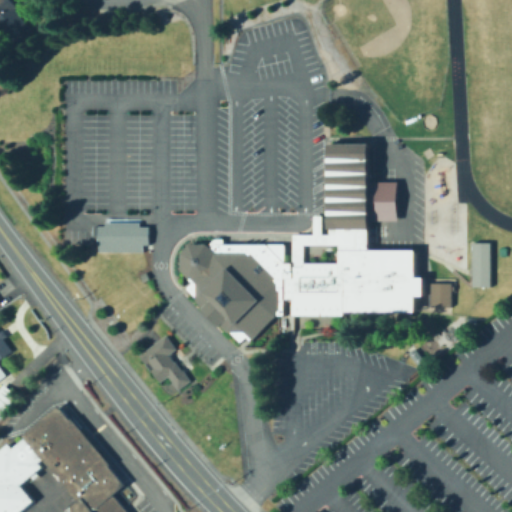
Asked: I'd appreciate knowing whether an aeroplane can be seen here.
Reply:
No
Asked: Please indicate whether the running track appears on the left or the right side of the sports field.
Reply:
on its right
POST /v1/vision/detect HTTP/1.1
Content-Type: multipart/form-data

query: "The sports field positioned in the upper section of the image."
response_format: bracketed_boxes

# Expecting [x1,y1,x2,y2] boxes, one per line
[361,0,412,58]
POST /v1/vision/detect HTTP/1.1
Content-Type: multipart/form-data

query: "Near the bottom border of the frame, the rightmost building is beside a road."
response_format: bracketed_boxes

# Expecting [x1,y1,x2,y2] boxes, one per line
[20,408,128,512]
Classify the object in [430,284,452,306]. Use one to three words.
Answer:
shed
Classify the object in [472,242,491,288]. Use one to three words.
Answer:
shed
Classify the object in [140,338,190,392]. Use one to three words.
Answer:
house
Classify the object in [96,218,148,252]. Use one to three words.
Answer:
building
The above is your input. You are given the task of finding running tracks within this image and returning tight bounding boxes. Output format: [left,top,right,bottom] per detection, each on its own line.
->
[450,0,512,231]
